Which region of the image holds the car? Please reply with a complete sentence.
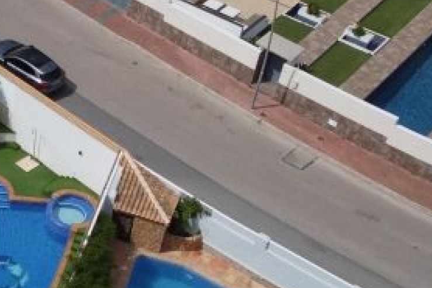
The car appears toward the top left of the photo.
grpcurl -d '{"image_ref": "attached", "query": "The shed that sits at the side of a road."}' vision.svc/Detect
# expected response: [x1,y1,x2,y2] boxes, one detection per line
[112,152,179,266]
